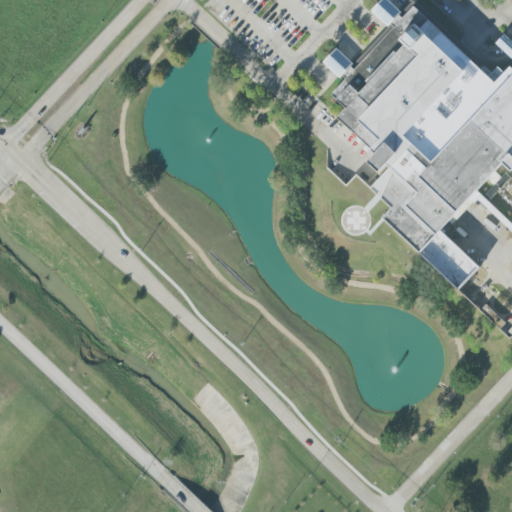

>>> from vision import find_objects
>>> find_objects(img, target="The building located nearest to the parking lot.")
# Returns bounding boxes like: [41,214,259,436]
[332,5,512,328]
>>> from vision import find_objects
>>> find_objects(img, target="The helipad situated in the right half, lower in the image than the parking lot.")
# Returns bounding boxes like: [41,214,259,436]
[342,206,370,236]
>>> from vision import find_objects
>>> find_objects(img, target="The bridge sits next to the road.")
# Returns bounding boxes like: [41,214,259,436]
[140,454,214,512]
